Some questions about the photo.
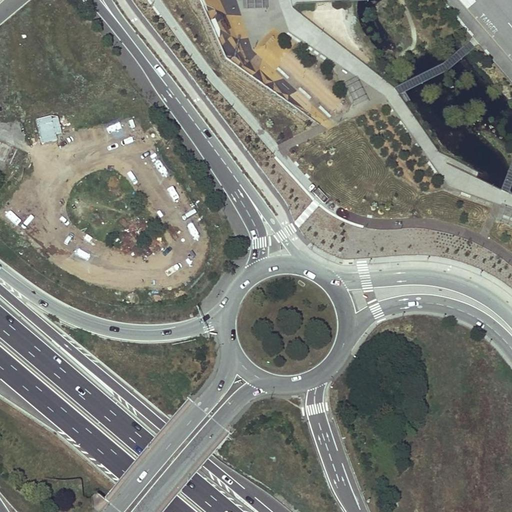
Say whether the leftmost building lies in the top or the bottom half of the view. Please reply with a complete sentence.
You can find the leftmost building in the top half.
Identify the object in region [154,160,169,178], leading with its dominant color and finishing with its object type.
white camper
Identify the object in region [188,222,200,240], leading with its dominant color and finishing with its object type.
white vehicle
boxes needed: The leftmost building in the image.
[36,114,61,144]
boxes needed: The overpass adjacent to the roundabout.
[104,398,230,512]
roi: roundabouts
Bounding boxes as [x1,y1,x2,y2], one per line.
[188,234,378,432]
